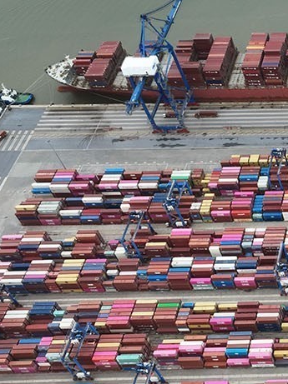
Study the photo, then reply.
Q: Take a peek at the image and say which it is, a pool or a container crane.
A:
container crane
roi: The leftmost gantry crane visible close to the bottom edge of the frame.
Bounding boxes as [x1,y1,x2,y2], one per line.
[61,322,100,382]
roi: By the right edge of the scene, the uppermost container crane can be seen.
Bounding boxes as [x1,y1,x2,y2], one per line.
[265,147,288,194]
